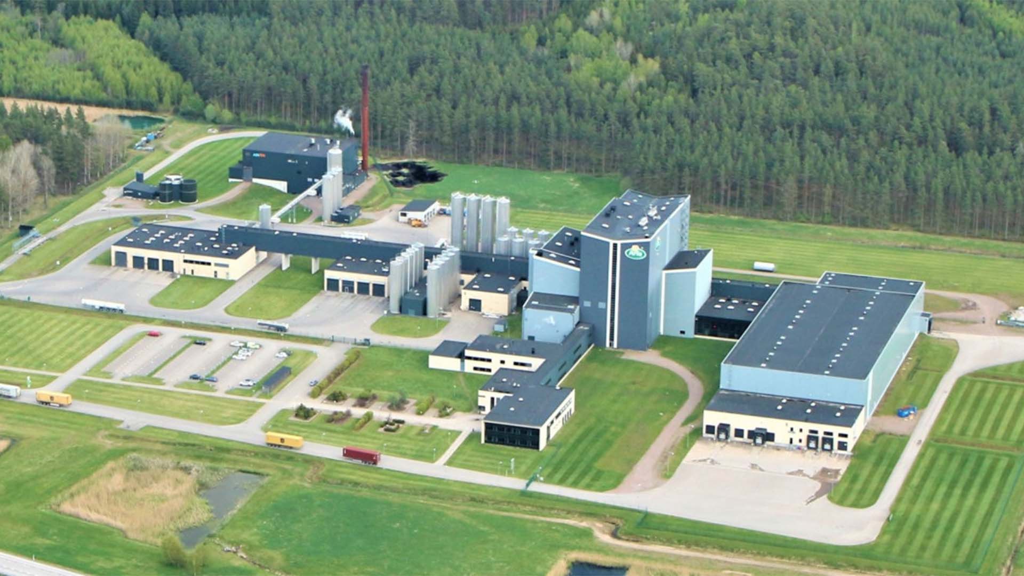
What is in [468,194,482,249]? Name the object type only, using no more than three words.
silo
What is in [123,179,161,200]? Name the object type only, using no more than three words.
shed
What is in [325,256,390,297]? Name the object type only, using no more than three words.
building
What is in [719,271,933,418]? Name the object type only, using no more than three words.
warehouse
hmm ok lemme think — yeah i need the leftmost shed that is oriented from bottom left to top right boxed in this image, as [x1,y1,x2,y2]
[262,368,295,395]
